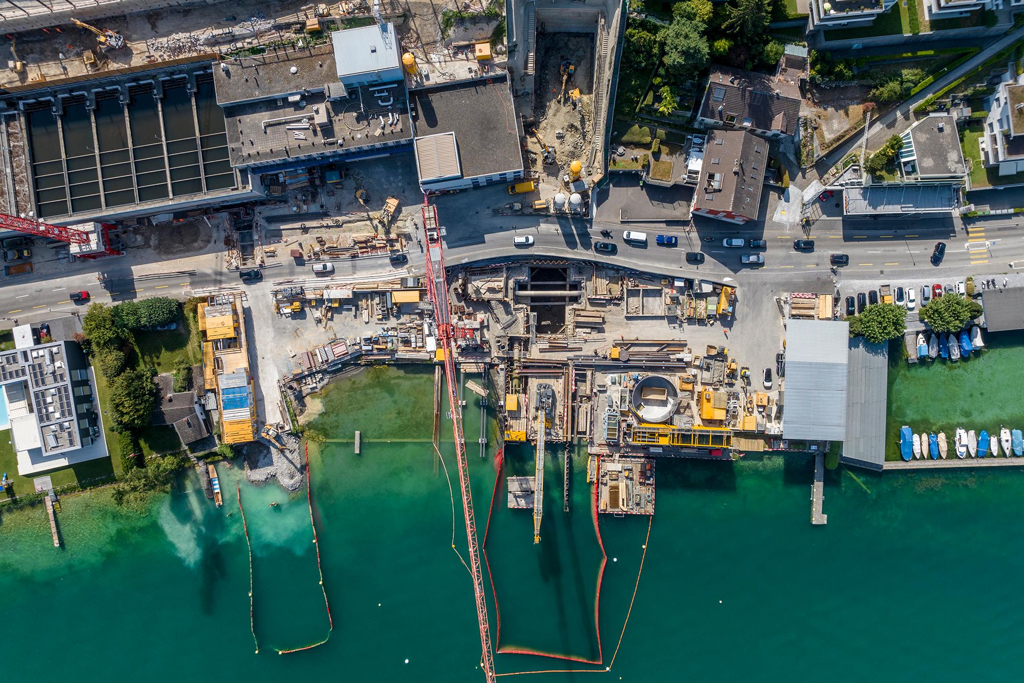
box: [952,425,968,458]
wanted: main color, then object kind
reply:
white boat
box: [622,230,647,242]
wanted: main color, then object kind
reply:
white vehicle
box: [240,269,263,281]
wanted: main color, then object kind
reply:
black vehicle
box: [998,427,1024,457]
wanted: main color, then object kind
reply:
white boat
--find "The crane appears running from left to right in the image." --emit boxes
[0,210,131,263]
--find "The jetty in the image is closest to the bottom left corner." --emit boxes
[45,495,60,546]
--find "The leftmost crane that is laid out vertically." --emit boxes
[419,196,498,683]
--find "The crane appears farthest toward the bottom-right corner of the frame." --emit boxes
[530,381,556,541]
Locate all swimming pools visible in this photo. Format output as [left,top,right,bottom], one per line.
[0,383,21,433]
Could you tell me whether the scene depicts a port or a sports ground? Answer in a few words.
port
